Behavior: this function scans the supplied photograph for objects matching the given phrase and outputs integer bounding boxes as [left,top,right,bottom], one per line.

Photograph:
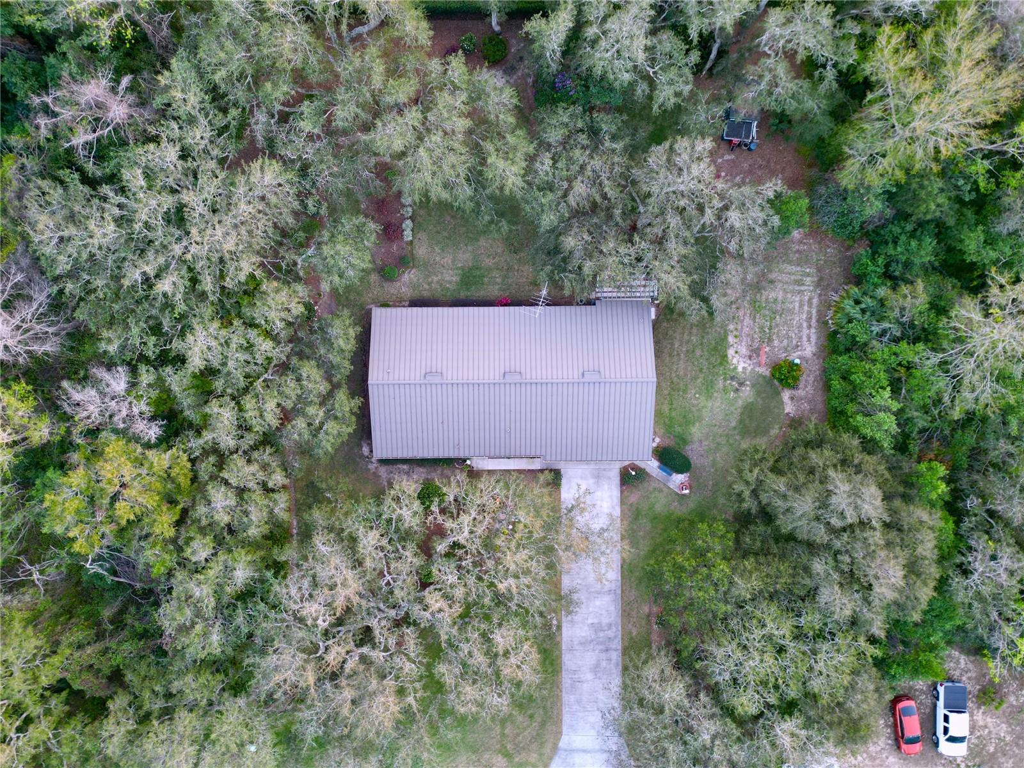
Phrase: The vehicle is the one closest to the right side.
[931,676,972,756]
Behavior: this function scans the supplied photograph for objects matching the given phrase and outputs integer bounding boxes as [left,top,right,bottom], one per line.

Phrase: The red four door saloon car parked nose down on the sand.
[889,694,925,754]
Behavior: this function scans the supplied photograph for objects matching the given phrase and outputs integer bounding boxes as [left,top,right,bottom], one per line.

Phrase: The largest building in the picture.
[367,299,657,464]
